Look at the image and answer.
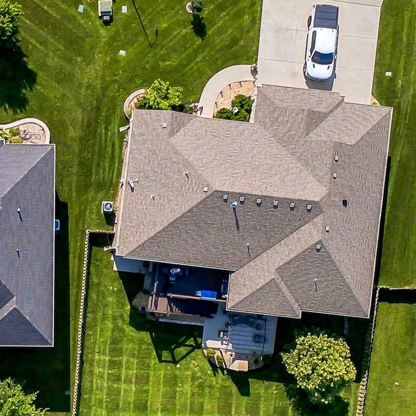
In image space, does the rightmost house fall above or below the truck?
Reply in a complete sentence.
Looking at the scene, the rightmost house is located below the truck.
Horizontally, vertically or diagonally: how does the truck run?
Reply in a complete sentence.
Seen from above, the truck lies vertically.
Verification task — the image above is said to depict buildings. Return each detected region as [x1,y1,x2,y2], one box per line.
[100,82,396,320]
[0,140,56,348]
